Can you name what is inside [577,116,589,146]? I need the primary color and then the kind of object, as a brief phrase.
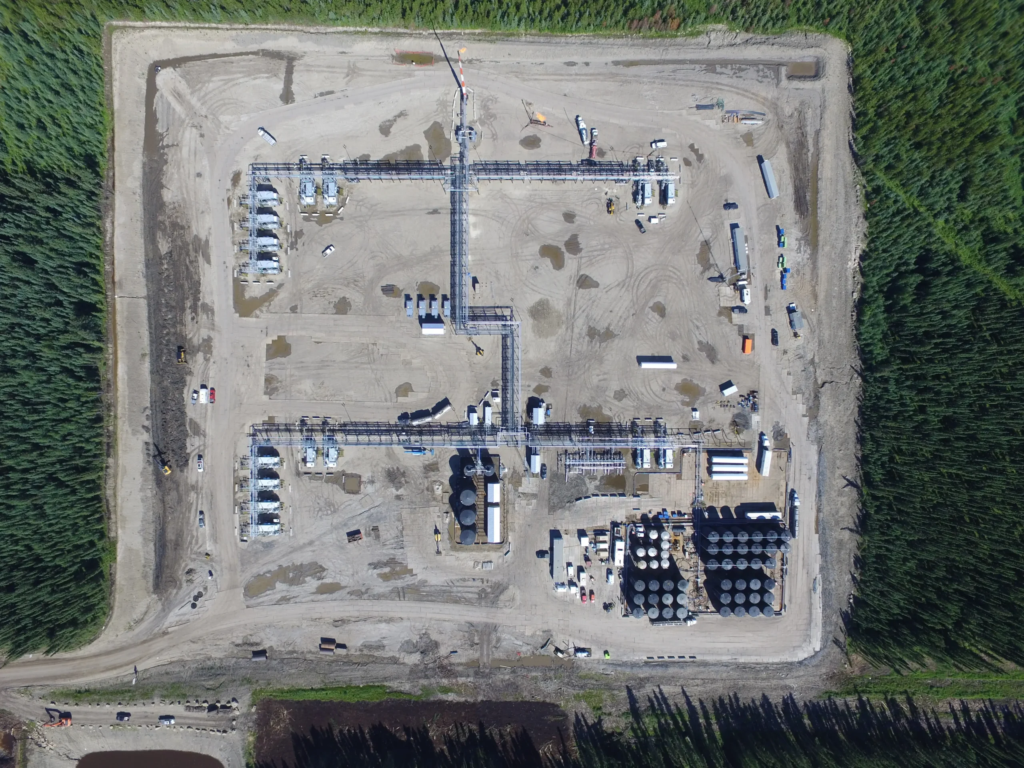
white vehicle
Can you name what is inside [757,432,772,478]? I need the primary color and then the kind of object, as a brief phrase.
white vehicle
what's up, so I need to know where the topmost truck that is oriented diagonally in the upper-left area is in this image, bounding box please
[256,126,277,147]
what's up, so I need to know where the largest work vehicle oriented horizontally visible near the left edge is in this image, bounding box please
[44,717,73,730]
